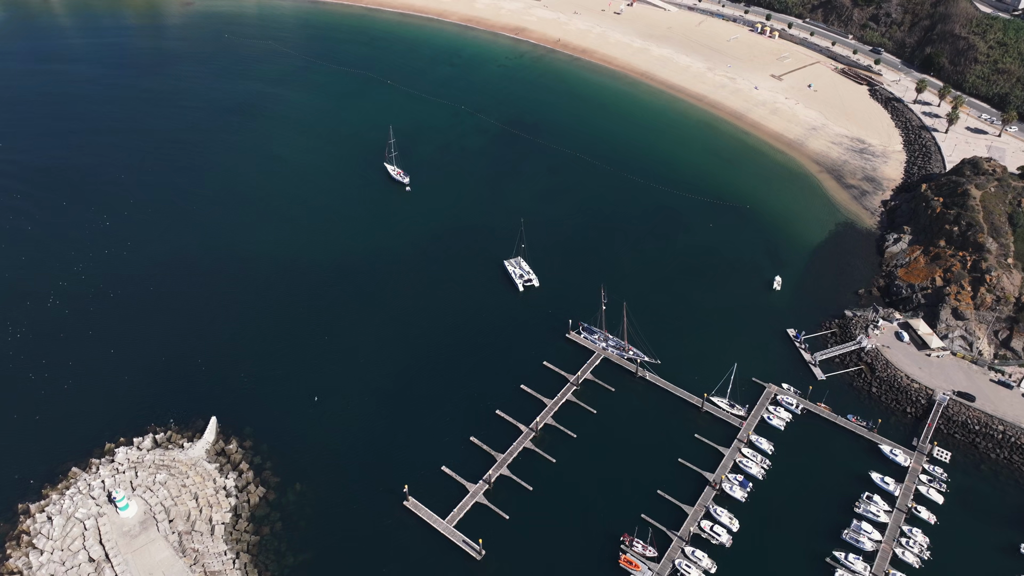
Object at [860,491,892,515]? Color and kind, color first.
white boat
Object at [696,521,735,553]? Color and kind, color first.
white boat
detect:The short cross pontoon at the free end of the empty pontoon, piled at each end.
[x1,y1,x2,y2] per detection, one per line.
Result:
[402,496,486,561]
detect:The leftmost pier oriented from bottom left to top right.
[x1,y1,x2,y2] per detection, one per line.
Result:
[443,352,614,526]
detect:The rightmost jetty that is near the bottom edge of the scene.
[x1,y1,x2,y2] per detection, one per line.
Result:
[826,444,953,576]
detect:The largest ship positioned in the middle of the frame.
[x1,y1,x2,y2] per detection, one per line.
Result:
[578,286,662,361]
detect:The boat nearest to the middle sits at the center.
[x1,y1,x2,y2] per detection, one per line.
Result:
[503,235,541,293]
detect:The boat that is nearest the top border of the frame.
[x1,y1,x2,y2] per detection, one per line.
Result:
[385,130,412,186]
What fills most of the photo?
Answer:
water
